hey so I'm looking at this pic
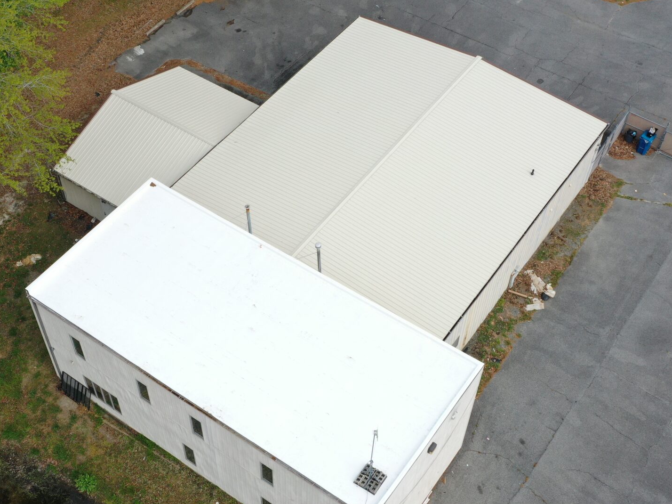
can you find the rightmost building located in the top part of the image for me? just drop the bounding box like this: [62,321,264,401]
[167,14,611,349]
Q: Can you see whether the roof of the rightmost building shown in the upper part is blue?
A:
No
